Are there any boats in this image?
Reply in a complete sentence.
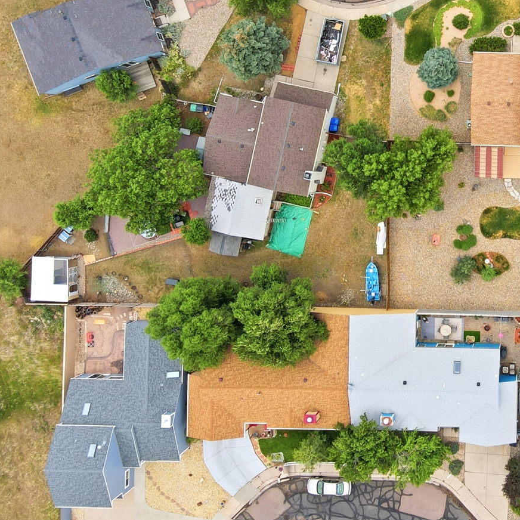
Yes, I can see a boat in this picture.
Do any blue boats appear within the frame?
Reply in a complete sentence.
Yes, there's a blue boat here.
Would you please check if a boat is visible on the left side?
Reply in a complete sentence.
No, no boat appears on the left side.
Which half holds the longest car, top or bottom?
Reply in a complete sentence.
The longest car sits in the bottom half of the picture.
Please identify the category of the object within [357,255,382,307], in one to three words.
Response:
boat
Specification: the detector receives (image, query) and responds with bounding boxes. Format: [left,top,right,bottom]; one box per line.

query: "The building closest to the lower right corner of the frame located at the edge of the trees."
[347,310,518,448]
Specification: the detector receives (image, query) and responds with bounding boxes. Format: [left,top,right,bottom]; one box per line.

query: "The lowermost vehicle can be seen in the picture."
[308,476,353,499]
